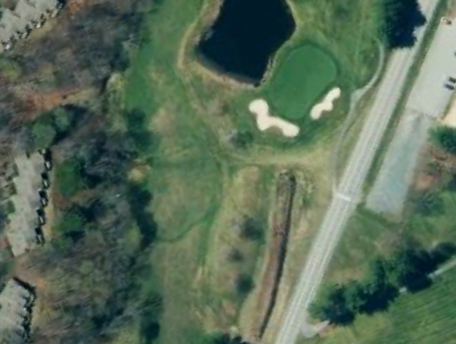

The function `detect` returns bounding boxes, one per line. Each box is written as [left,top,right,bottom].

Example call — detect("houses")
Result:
[0,279,34,344]
[6,153,50,256]
[0,0,61,54]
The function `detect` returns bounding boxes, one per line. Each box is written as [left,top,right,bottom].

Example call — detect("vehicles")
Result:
[448,75,456,83]
[444,83,454,90]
